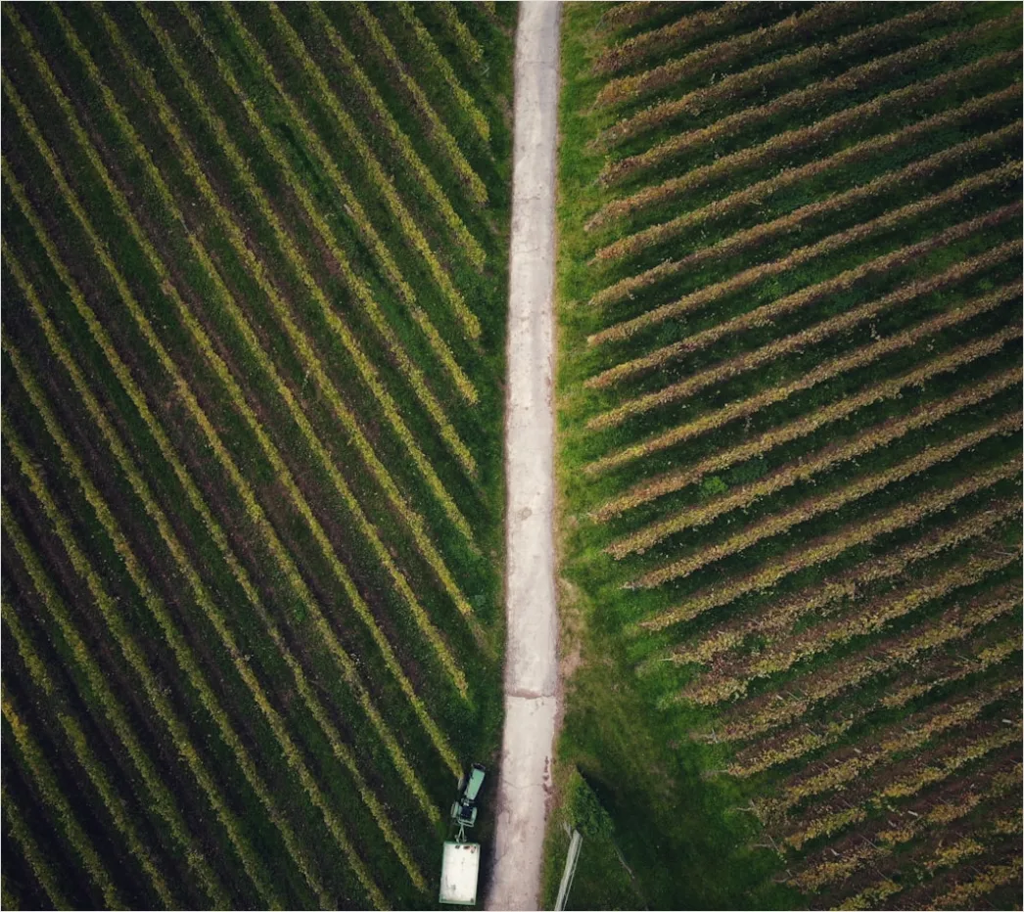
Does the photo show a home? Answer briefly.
No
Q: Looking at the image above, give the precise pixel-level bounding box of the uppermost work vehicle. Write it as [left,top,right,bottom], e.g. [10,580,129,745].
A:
[450,761,487,827]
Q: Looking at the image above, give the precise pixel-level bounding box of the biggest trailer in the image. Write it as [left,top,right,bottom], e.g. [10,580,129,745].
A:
[439,826,481,906]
